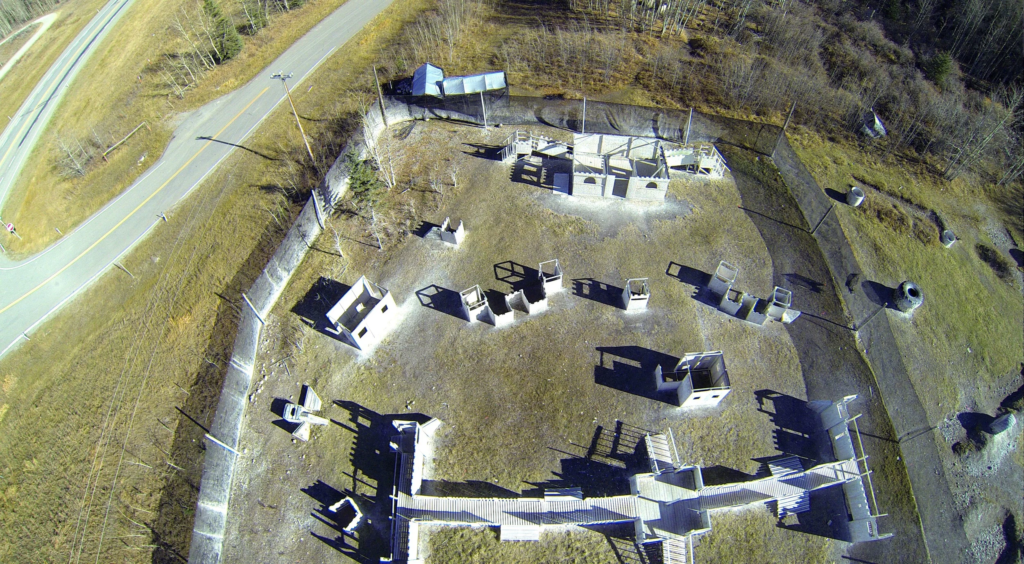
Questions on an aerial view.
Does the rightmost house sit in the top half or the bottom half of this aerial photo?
bottom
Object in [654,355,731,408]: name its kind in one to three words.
house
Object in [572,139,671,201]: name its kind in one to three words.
house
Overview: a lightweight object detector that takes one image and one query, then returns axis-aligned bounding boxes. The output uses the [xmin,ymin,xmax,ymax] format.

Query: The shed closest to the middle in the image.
[440,218,465,245]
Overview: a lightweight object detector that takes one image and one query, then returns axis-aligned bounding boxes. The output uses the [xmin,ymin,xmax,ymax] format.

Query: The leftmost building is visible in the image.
[325,271,398,351]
